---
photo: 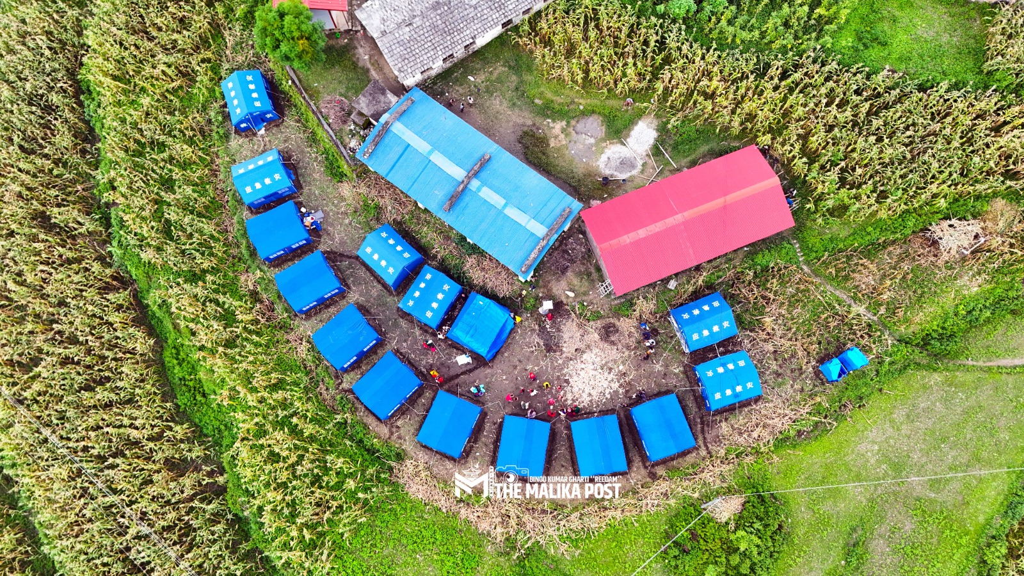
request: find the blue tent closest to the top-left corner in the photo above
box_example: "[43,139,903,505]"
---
[221,70,289,145]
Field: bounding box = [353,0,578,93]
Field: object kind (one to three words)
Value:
building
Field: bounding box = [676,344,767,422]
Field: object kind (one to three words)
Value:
tent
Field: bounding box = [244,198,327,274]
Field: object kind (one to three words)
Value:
tent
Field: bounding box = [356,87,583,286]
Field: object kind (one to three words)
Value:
building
